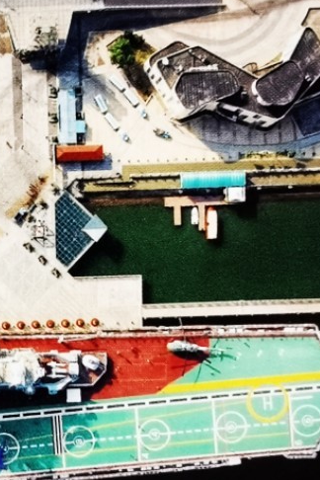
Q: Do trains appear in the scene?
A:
Yes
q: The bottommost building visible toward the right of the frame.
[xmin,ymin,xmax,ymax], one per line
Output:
[219,187,246,203]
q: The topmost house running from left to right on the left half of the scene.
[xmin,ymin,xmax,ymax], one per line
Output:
[55,145,103,163]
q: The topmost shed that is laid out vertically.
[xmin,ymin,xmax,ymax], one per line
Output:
[57,88,85,145]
